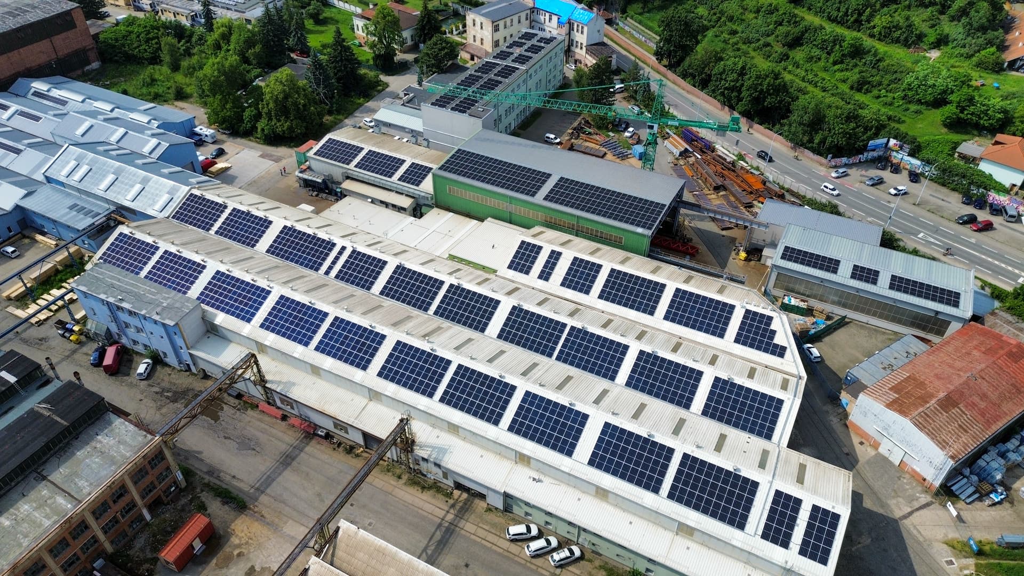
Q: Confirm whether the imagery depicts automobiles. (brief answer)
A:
Yes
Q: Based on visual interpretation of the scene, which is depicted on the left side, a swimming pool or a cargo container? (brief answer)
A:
cargo container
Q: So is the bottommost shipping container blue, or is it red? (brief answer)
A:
red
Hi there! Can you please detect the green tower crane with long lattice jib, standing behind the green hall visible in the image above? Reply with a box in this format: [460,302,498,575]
[427,84,738,174]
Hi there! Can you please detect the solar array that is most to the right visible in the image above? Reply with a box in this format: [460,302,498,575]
[889,274,962,309]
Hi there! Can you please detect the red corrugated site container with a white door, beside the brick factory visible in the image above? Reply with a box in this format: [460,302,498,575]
[154,509,218,572]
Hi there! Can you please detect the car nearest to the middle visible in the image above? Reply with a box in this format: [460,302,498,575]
[543,132,561,144]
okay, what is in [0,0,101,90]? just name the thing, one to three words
building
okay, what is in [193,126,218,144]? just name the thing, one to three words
camper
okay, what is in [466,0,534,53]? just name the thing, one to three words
building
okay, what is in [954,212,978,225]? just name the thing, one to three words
vehicle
